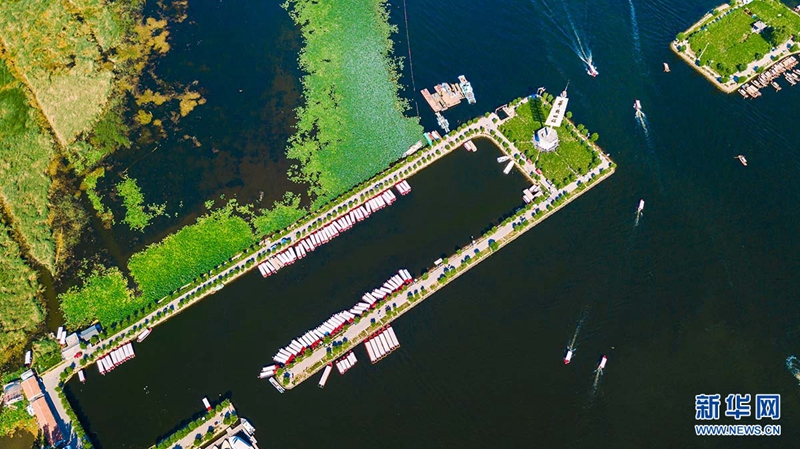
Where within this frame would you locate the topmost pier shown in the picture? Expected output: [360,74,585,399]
[421,88,463,112]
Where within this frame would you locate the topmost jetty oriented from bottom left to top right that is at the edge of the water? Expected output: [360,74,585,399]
[277,178,593,390]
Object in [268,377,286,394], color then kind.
white boat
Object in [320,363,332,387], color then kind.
white boat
